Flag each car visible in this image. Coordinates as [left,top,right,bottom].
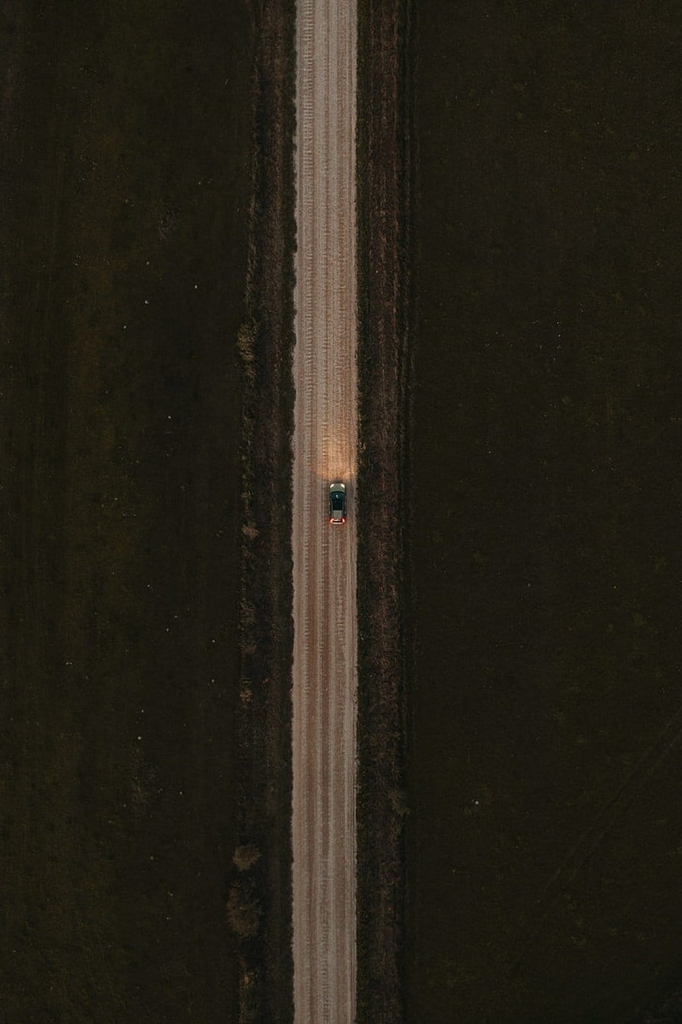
[328,483,347,525]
